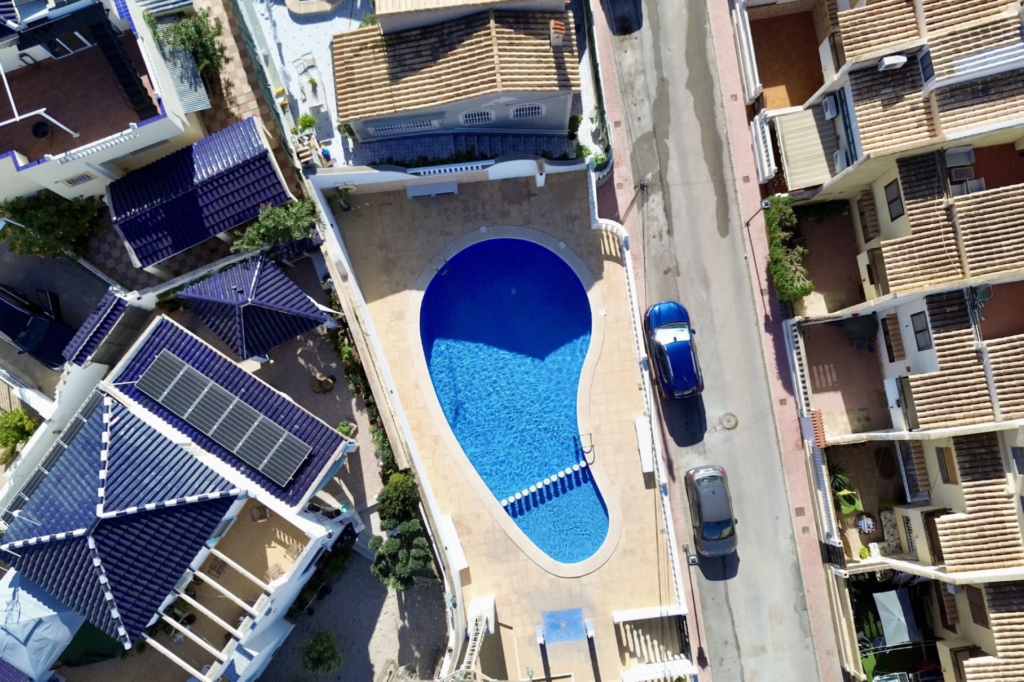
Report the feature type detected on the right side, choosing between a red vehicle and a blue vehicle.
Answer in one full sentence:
There is a blue vehicle on the right side.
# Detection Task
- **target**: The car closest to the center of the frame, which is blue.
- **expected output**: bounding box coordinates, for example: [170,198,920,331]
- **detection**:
[644,301,703,401]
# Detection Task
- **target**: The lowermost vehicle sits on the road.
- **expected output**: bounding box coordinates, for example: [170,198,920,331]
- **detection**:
[683,463,739,559]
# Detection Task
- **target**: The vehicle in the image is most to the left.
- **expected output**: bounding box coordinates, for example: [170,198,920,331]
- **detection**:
[0,296,73,378]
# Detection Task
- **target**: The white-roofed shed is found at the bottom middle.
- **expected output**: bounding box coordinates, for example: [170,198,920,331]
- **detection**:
[465,594,498,632]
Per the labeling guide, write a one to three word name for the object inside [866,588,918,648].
umbrella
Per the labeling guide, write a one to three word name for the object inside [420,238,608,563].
swimming pool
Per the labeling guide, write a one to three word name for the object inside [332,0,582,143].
house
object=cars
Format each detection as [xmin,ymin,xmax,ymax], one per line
[0,296,73,378]
[683,463,739,559]
[644,301,703,401]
